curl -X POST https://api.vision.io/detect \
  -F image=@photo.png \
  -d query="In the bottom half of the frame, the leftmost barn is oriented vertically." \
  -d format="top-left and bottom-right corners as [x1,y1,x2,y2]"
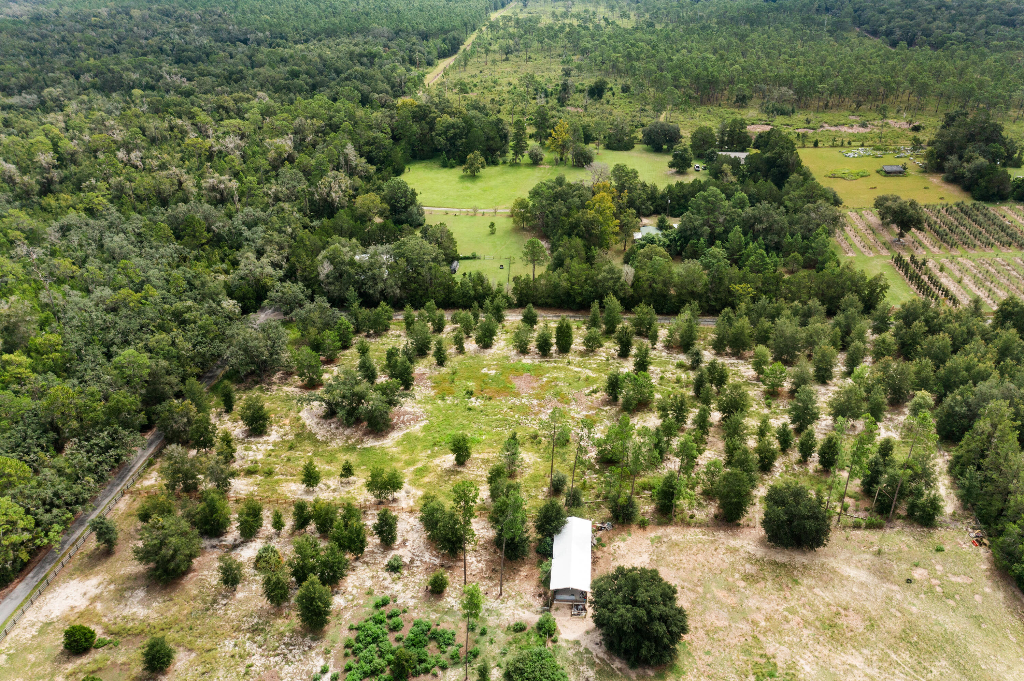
[549,515,592,609]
